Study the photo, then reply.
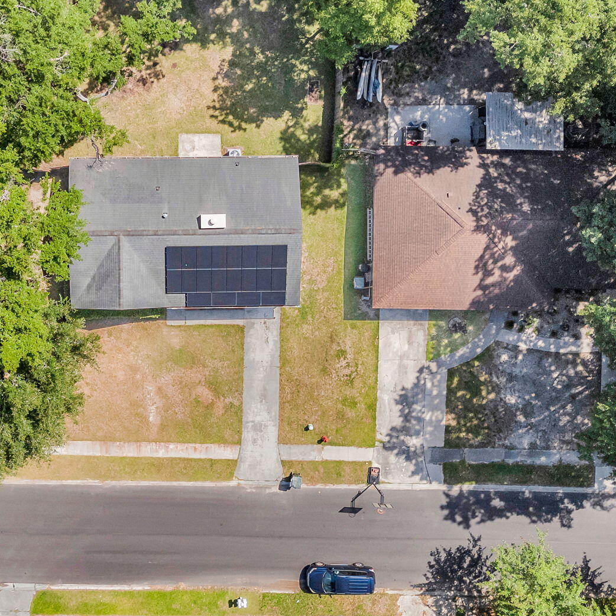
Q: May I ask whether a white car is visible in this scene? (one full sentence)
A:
No, there isn't any white car down there.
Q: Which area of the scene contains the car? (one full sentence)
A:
The car is located in the bottom region of the scene.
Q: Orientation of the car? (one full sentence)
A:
The car has been laid out from left to right relative to the frame.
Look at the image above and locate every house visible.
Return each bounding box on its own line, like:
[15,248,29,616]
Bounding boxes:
[370,145,616,310]
[66,156,303,311]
